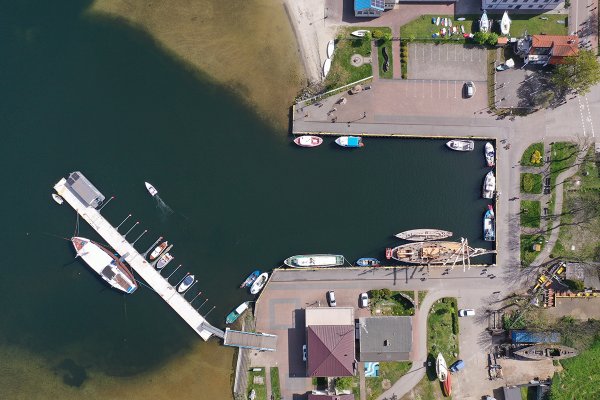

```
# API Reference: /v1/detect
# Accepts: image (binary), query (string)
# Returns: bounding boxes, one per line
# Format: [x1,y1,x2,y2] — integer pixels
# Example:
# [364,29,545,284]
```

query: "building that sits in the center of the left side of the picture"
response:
[63,173,104,209]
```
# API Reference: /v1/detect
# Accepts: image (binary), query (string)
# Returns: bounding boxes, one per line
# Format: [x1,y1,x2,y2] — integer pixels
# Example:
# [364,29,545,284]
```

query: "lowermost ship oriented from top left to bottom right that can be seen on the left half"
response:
[59,217,156,295]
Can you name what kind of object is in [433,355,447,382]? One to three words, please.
boat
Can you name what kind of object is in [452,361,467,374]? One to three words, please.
vehicle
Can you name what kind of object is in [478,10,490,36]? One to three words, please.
boat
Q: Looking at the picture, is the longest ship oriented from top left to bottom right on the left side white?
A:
Yes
